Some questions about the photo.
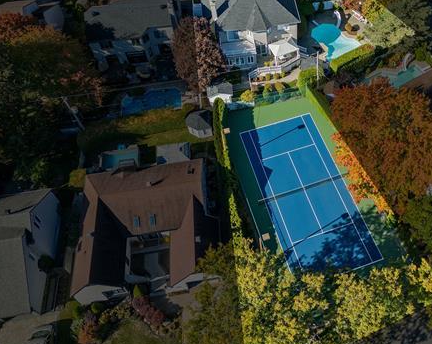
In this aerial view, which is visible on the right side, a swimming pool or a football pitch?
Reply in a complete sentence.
Looking on the right side, you will find a swimming pool.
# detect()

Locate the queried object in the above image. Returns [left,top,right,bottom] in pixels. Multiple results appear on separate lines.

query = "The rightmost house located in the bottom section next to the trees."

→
[70,158,222,300]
